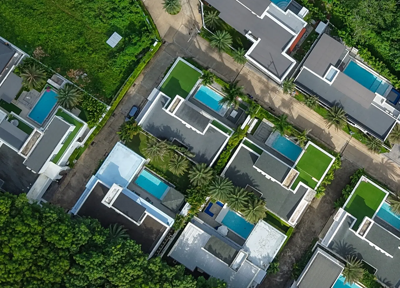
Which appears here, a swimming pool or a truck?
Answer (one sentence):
It is a swimming pool that can be seen here.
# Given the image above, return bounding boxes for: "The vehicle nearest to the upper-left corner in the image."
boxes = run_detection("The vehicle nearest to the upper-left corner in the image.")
[123,103,140,125]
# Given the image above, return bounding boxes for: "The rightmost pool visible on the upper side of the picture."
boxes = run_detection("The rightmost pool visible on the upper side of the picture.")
[386,85,400,107]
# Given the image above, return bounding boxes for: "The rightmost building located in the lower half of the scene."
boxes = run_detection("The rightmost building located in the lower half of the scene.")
[320,174,400,288]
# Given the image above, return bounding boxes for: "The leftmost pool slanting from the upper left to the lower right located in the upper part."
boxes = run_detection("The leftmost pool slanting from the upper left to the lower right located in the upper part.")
[192,83,231,119]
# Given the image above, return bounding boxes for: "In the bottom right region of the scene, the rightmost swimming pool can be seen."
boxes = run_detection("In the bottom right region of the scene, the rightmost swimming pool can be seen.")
[377,202,400,232]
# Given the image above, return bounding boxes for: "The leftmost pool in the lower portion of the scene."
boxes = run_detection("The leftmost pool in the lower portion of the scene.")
[133,169,172,201]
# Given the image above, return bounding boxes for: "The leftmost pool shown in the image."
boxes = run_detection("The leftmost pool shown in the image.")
[25,86,61,127]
